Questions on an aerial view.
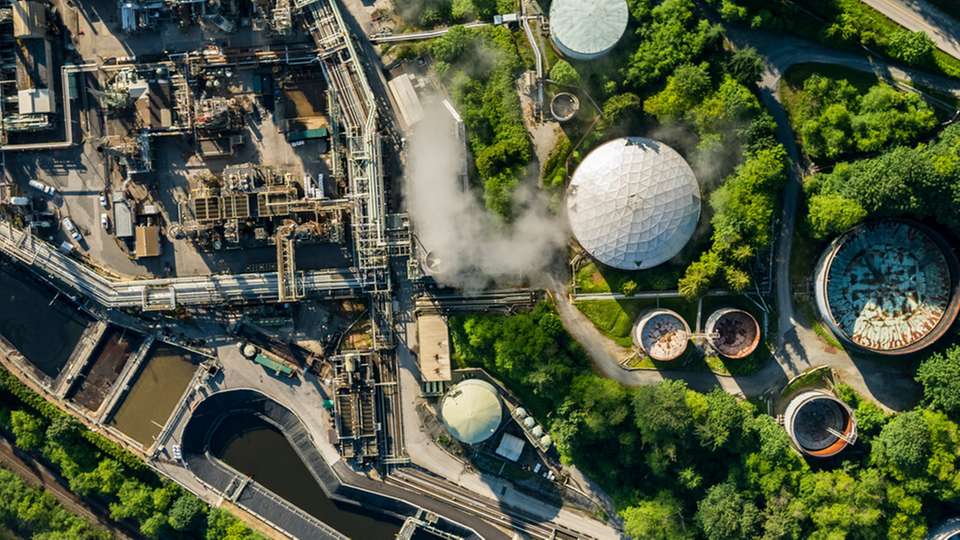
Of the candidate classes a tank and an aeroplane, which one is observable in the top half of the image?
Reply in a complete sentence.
There is a tank in the top half of the image.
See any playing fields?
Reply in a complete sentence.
No, no playing field can be seen from above.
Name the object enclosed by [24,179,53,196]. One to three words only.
vehicle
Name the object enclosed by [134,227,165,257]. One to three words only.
shed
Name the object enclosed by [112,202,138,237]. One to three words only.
building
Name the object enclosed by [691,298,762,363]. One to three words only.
storage tank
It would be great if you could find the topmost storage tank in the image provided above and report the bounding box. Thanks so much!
[543,0,630,68]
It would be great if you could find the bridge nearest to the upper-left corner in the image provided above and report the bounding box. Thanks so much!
[276,232,302,304]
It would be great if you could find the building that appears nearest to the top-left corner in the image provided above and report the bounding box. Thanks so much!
[14,0,61,44]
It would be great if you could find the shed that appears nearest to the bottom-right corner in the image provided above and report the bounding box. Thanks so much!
[496,427,524,460]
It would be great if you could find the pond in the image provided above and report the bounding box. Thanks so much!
[178,387,490,540]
